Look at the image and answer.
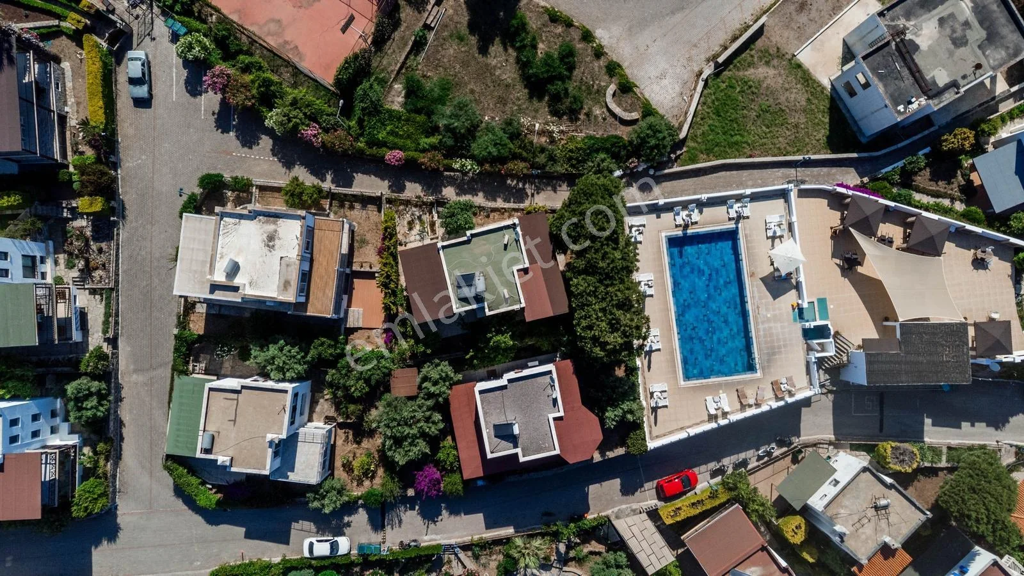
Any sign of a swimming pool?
Yes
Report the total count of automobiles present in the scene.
3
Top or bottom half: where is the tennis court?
top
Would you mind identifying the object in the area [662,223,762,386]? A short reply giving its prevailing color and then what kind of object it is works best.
blue swimming pool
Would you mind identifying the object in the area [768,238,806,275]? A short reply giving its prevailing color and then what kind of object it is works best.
white umbrella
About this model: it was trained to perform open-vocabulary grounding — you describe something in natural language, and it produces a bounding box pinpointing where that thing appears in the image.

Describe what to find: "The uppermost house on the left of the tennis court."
[0,33,78,170]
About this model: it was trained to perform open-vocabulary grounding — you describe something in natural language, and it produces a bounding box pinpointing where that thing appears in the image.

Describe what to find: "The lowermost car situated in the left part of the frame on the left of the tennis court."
[126,51,154,101]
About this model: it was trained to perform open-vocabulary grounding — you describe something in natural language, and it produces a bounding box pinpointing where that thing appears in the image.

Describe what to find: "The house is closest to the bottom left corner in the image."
[0,392,93,518]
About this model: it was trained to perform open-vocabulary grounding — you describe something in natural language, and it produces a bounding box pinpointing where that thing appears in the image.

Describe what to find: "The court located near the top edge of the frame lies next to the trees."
[220,0,391,83]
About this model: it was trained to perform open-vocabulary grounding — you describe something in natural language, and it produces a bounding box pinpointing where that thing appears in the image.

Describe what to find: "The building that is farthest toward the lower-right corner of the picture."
[896,518,1013,576]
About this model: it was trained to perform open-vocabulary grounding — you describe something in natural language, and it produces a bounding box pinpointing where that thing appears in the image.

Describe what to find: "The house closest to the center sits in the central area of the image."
[399,213,569,323]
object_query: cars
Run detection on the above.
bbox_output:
[654,470,698,497]
[304,533,352,559]
[126,51,154,101]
